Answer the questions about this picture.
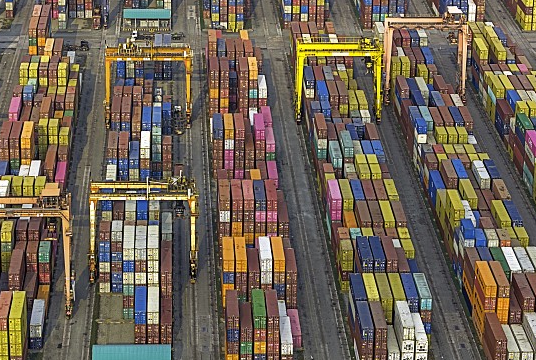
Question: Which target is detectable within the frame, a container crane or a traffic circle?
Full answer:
The image shows a container crane.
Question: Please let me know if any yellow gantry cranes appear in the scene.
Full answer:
Yes, there's a yellow gantry crane down there.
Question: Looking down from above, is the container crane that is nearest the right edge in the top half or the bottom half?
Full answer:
The container crane that is nearest the right edge sits in the top half of the picture.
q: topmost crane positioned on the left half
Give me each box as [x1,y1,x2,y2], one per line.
[103,36,194,130]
